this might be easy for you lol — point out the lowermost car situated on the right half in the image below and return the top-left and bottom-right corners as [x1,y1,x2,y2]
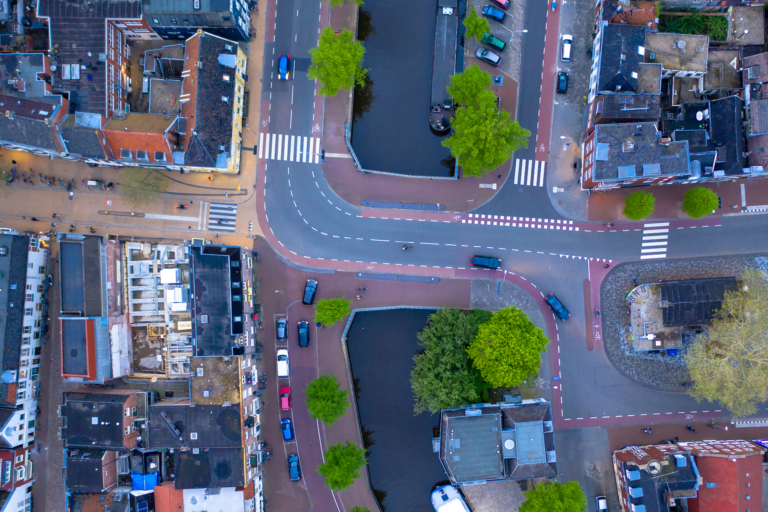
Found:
[595,495,609,512]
